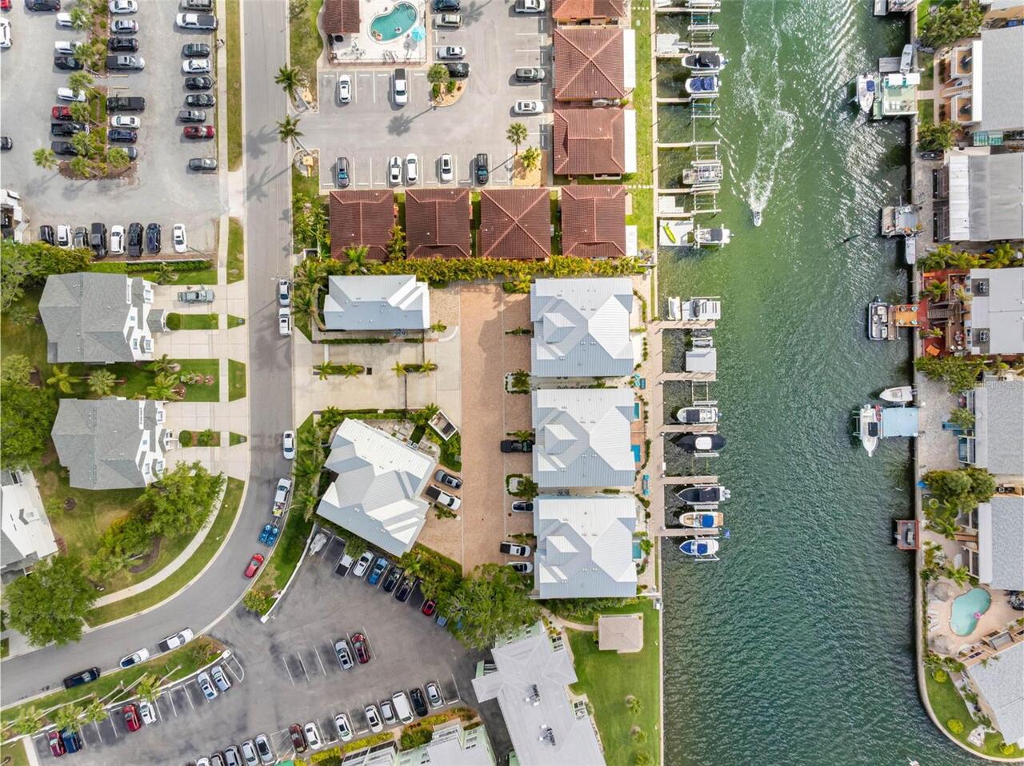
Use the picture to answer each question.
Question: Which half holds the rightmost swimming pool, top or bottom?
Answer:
bottom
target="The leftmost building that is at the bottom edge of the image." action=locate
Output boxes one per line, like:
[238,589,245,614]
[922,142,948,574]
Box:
[342,726,413,766]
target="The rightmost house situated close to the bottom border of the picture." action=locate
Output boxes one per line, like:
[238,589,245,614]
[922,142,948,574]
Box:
[952,619,1024,744]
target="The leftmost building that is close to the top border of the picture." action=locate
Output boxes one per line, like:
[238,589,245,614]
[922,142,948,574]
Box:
[325,0,361,40]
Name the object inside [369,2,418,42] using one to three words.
swimming pool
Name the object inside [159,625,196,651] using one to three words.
truck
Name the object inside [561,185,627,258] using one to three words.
house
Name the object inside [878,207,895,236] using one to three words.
pier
